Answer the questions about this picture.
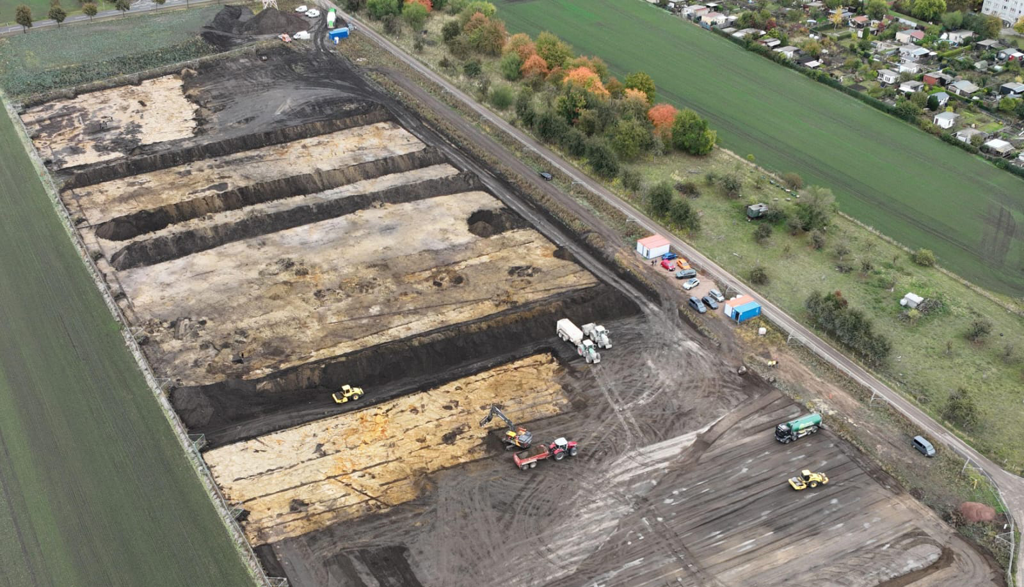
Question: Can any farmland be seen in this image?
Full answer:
Yes, some farmland is visible.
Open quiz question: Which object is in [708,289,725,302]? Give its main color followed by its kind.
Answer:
white vehicle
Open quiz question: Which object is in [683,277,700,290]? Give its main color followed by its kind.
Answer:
white vehicle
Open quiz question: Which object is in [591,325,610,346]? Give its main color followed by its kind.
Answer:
white work vehicle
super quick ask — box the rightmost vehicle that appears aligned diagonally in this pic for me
[909,434,936,456]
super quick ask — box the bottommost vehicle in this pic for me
[790,470,826,490]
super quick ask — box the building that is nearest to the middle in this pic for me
[637,234,669,259]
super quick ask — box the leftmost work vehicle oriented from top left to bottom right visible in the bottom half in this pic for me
[477,407,531,451]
